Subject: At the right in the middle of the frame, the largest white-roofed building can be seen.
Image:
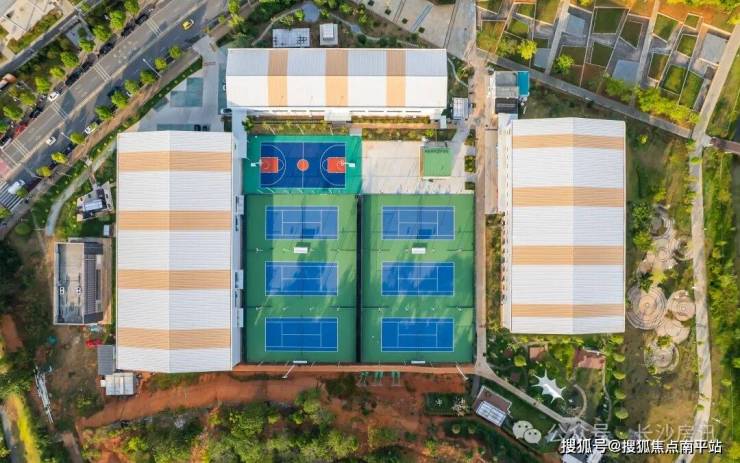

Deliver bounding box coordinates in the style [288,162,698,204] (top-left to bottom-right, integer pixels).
[493,109,626,336]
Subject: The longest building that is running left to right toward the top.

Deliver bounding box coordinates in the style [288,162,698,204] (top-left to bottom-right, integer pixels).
[225,48,447,122]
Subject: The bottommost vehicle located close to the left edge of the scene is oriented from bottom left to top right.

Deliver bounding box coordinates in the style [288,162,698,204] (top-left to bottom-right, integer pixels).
[7,178,25,192]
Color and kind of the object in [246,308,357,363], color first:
green tennis court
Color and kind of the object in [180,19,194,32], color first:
yellow vehicle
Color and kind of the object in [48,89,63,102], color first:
white vehicle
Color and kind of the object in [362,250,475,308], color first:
green tennis court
